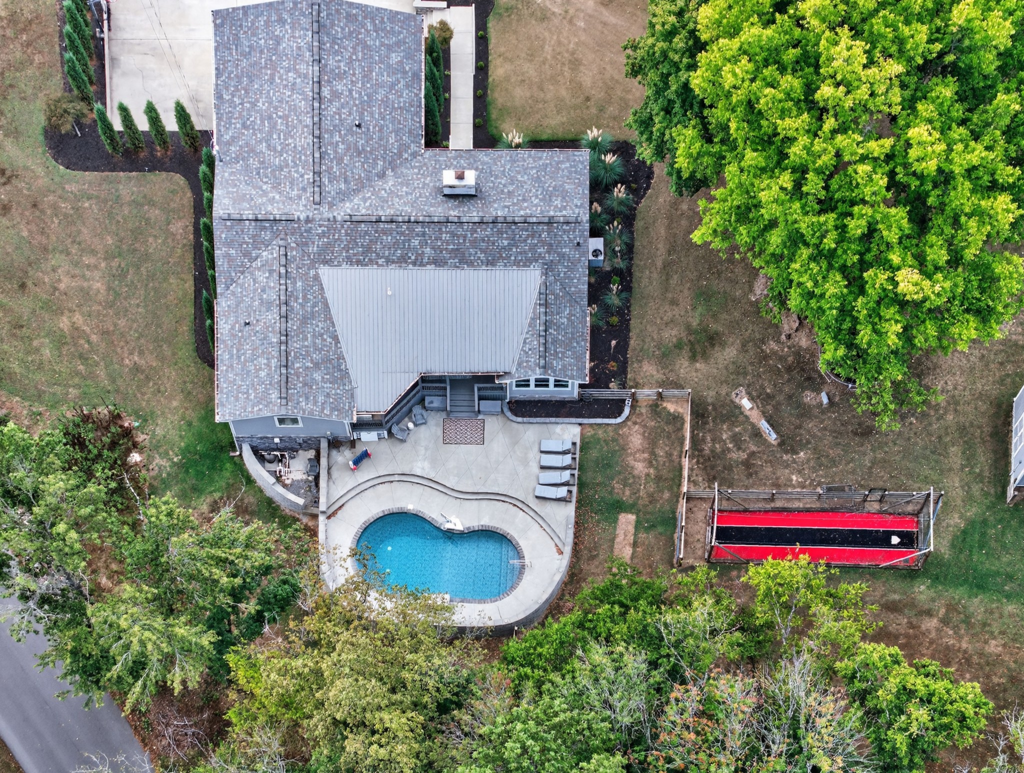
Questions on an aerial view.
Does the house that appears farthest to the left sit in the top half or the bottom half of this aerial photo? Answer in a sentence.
It is in the top half that the house that appears farthest to the left appears.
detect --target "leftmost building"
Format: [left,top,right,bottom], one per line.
[213,0,592,457]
